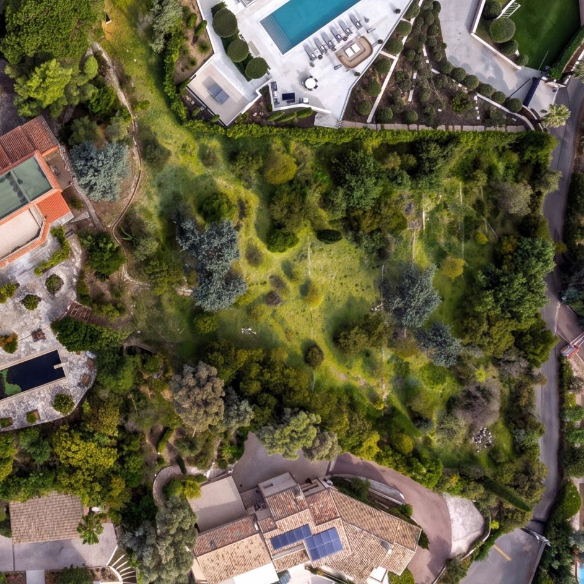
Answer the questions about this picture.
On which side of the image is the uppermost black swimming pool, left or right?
left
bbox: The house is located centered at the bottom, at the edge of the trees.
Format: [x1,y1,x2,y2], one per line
[186,460,421,584]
